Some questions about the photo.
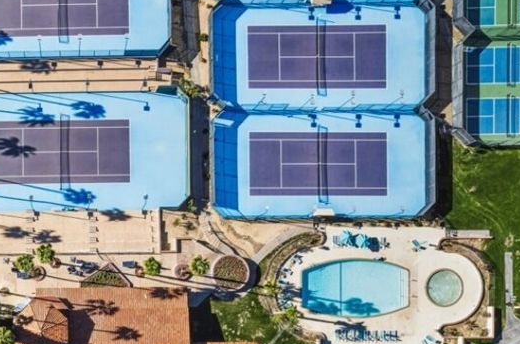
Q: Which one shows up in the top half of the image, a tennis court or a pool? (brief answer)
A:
tennis court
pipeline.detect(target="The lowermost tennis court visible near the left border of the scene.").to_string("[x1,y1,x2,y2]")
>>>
[0,91,189,208]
